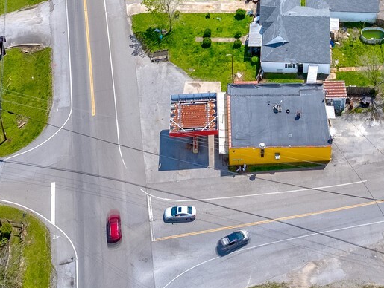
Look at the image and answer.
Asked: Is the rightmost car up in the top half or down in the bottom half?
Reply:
bottom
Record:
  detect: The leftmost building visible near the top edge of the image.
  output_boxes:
[248,0,340,84]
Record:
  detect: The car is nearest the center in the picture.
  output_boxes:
[163,204,195,221]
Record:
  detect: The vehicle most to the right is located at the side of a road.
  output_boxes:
[216,230,251,252]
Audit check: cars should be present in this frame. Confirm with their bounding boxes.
[163,204,195,221]
[105,210,120,244]
[216,230,251,252]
